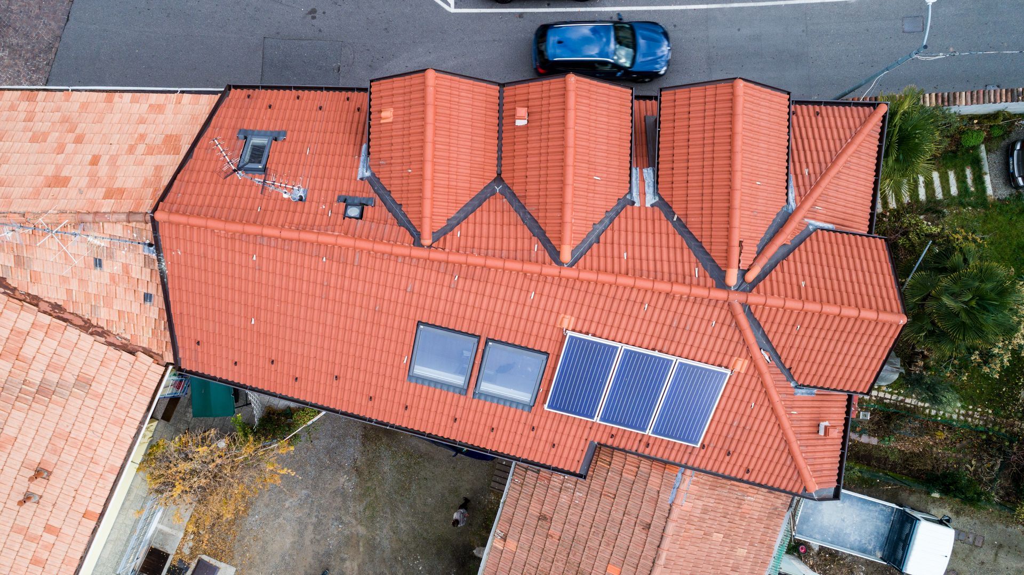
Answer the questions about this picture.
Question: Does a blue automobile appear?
Yes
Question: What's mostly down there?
buildings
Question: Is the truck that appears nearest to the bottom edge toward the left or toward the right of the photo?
right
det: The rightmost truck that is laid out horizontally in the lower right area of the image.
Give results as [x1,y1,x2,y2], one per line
[791,487,956,575]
